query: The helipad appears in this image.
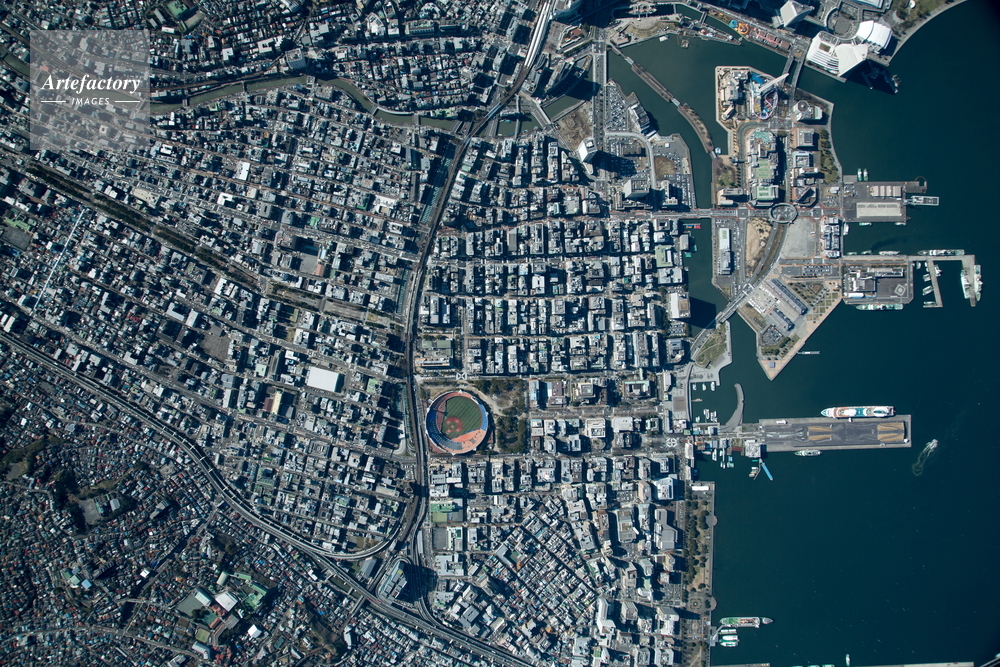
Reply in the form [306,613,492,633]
[892,281,908,298]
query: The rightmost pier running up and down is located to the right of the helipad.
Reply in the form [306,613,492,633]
[923,261,943,307]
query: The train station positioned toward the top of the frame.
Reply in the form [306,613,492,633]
[524,0,555,67]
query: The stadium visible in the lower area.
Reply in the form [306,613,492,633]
[424,391,489,457]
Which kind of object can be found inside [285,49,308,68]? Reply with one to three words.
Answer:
building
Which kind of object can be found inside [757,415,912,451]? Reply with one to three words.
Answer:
pier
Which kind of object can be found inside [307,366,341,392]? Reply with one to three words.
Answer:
building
